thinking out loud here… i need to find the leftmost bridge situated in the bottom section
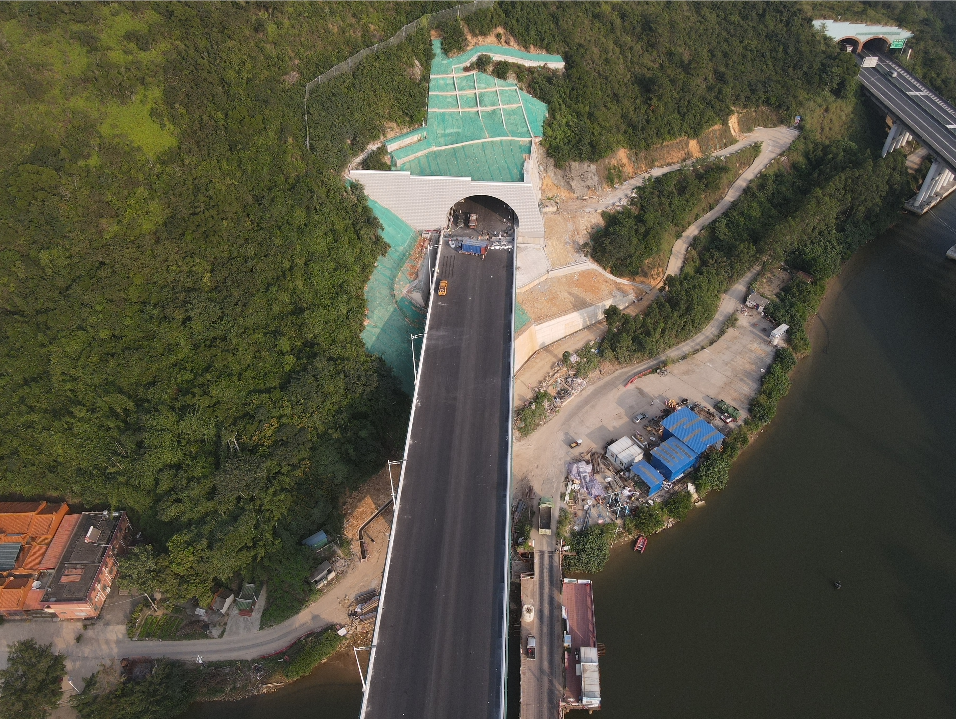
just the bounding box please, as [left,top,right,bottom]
[360,197,513,719]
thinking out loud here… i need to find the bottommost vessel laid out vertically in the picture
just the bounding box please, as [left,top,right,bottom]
[562,582,605,719]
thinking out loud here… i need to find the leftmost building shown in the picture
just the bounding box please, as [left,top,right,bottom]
[0,501,80,619]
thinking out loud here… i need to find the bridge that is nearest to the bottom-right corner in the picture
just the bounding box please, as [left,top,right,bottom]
[518,544,563,719]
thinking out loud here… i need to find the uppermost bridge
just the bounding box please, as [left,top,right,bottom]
[829,39,956,214]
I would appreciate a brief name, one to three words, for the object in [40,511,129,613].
building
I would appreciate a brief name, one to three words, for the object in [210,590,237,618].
shed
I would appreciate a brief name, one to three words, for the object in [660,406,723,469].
shed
